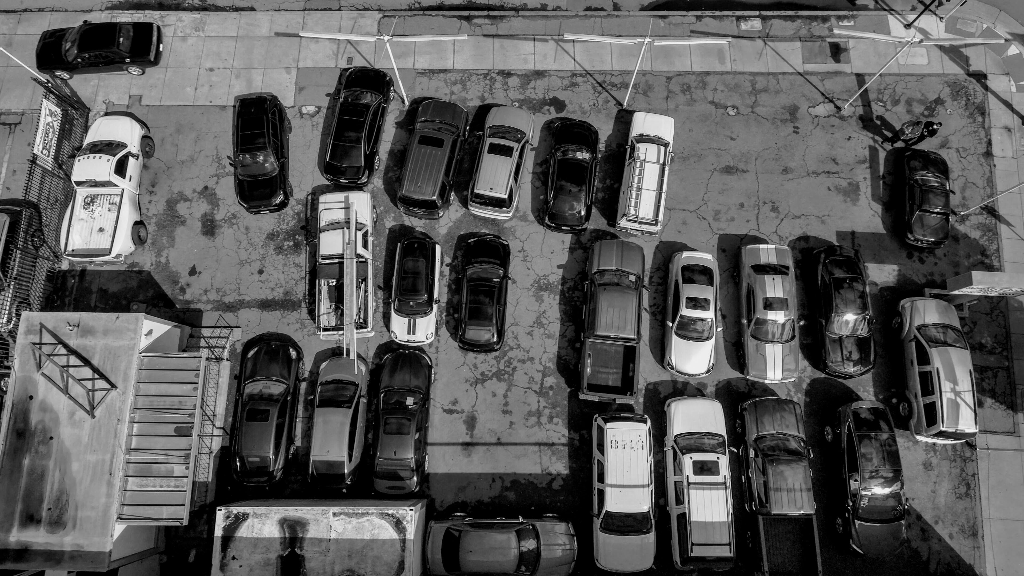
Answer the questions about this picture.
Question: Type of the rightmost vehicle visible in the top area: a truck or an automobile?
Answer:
automobile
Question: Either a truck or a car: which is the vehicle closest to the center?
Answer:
car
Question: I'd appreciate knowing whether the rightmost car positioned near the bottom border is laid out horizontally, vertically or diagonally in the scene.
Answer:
vertically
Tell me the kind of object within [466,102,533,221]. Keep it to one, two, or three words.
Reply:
car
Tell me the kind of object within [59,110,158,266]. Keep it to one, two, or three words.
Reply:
truck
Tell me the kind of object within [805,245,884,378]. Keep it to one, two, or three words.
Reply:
car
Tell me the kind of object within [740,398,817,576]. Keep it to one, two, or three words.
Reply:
truck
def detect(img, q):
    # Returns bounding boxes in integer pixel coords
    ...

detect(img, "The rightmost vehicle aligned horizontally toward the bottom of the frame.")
[426,516,576,576]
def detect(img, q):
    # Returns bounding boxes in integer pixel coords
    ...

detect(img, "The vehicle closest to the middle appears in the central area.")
[453,233,515,353]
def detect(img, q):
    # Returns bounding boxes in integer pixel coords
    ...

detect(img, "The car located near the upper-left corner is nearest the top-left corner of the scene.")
[31,15,165,80]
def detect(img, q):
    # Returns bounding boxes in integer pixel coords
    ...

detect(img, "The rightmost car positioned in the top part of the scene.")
[894,148,965,249]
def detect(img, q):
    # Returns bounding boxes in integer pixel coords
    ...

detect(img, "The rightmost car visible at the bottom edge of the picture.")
[830,400,912,558]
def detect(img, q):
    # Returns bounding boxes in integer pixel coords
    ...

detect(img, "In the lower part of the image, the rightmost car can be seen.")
[893,296,983,444]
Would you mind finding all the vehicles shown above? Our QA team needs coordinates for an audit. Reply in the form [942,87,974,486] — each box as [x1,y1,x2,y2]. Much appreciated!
[303,355,369,486]
[227,89,293,213]
[383,236,443,345]
[732,243,805,382]
[893,296,983,444]
[228,341,305,485]
[426,516,576,576]
[466,102,533,221]
[592,415,659,573]
[320,64,393,187]
[579,235,651,404]
[894,148,965,249]
[396,93,470,223]
[542,117,603,235]
[31,15,165,80]
[830,400,912,558]
[615,107,681,241]
[311,189,371,340]
[662,396,735,568]
[660,248,726,377]
[740,398,817,576]
[453,233,515,353]
[805,245,884,378]
[368,352,433,494]
[59,110,158,266]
